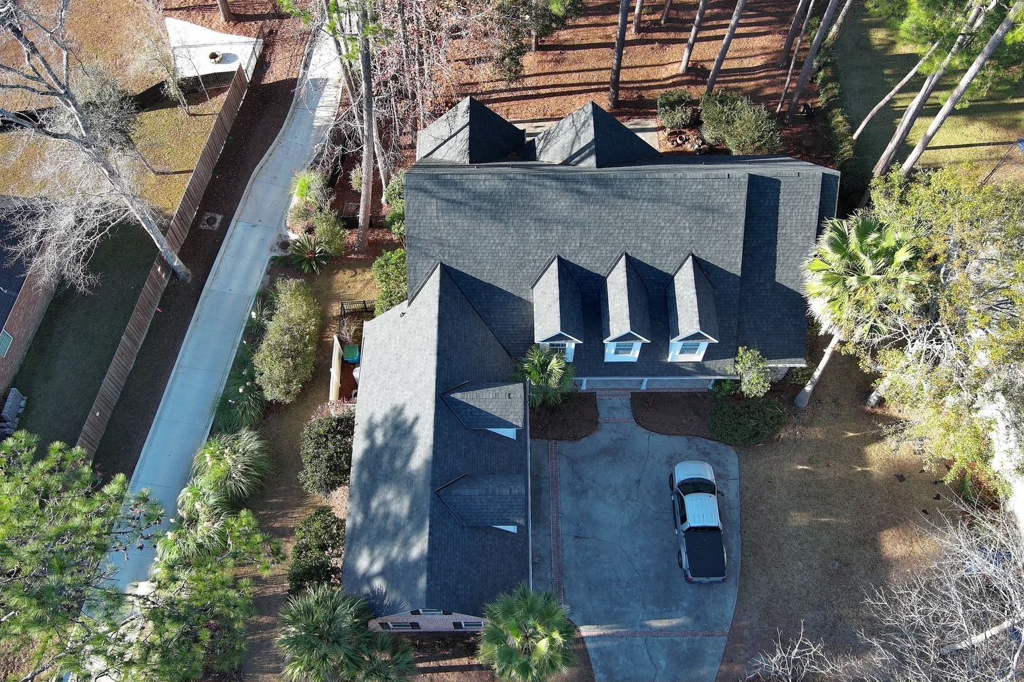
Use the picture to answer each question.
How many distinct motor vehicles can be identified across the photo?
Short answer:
one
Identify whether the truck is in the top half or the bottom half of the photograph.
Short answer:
bottom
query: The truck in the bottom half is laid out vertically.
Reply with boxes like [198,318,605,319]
[670,463,727,585]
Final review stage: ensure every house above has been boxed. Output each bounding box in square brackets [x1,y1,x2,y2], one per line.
[337,95,840,637]
[0,177,81,414]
